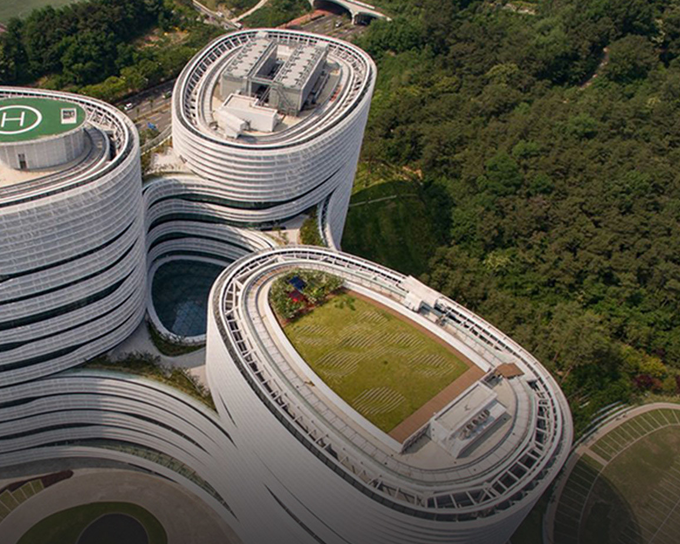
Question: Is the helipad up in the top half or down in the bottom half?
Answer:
top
